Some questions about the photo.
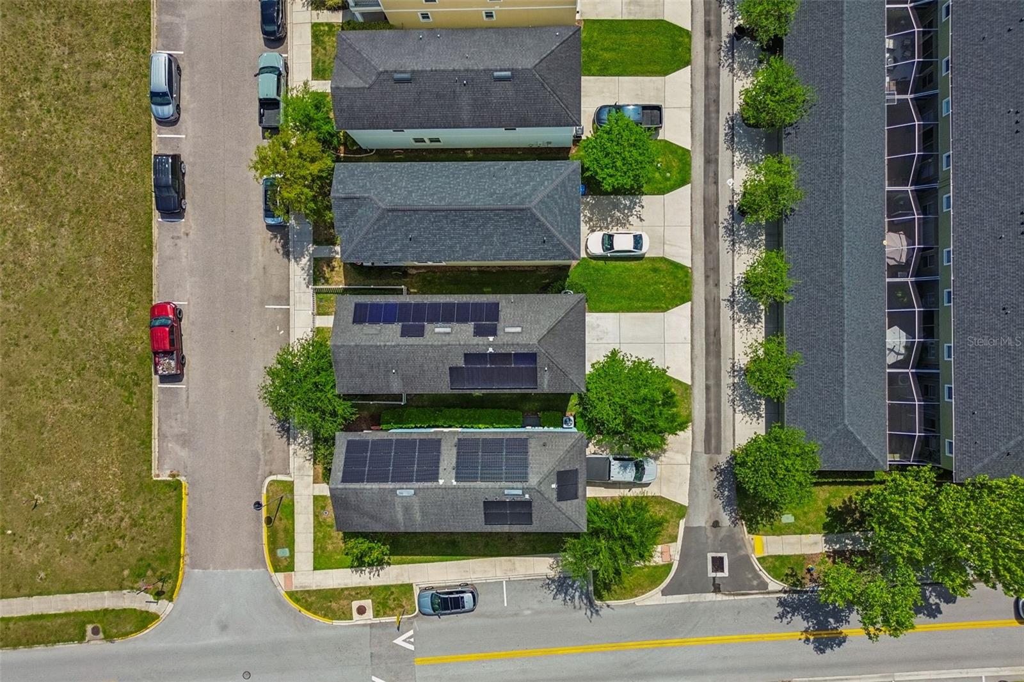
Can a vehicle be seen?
Yes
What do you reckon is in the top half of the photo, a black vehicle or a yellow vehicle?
black vehicle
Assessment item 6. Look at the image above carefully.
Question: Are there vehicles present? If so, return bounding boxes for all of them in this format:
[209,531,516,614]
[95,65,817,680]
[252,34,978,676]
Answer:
[255,54,290,130]
[593,101,663,134]
[261,0,288,41]
[149,303,186,377]
[585,229,648,258]
[153,157,188,214]
[418,585,479,620]
[260,176,290,229]
[148,56,183,124]
[586,453,658,485]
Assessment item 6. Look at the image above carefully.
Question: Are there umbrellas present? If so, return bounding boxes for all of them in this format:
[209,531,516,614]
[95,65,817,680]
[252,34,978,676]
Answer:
[888,230,916,266]
[888,326,913,365]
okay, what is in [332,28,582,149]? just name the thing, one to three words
house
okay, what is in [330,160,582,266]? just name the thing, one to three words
house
